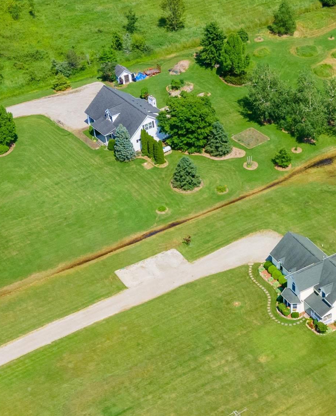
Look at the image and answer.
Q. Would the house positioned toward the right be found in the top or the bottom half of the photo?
bottom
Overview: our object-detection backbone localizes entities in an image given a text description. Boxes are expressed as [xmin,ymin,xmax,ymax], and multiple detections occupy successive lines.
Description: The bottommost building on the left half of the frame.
[84,85,166,152]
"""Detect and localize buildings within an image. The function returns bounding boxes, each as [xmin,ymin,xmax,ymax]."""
[269,231,336,324]
[84,85,166,152]
[113,65,132,85]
